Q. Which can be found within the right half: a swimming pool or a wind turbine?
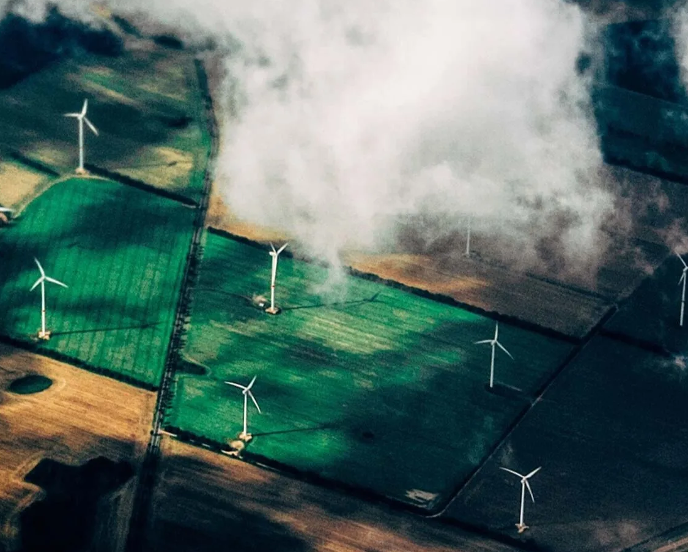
wind turbine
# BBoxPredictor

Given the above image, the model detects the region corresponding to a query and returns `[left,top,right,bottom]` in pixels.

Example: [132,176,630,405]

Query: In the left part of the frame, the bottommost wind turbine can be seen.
[226,374,259,436]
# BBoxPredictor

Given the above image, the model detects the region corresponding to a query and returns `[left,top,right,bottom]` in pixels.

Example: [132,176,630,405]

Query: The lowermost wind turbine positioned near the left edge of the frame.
[30,257,65,336]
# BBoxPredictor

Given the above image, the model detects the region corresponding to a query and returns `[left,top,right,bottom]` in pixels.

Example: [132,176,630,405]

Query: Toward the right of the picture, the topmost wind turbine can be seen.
[454,177,490,255]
